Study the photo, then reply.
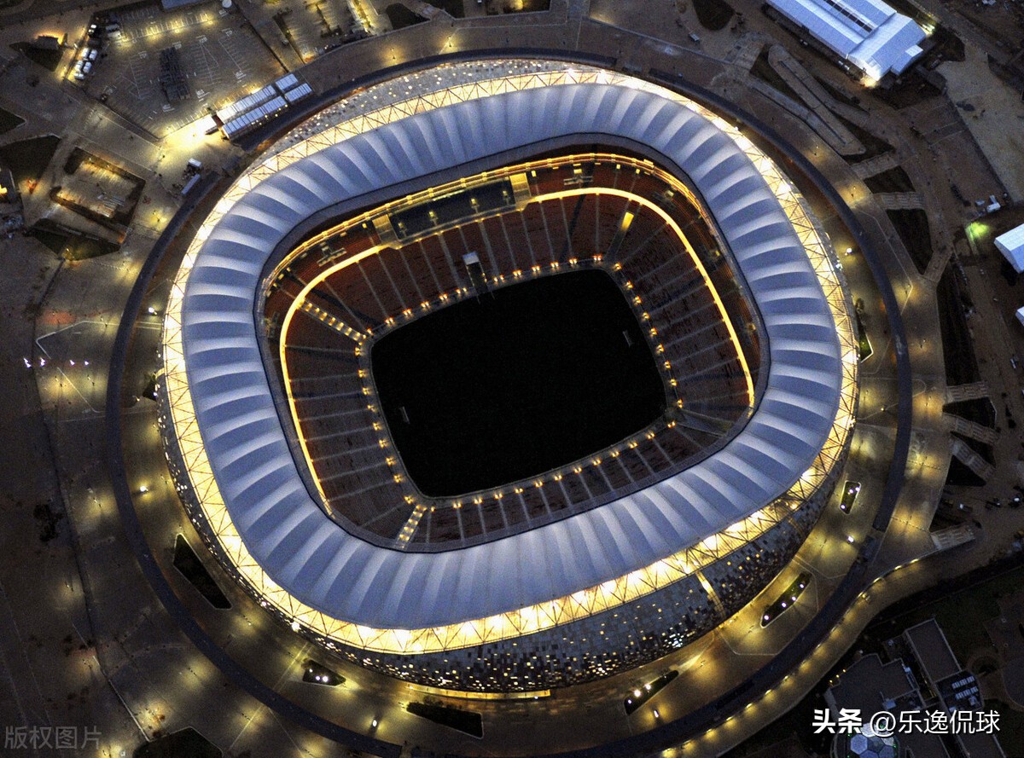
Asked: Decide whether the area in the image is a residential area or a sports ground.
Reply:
sports ground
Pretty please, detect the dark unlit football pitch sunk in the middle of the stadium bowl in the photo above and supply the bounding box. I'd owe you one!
[356,257,681,510]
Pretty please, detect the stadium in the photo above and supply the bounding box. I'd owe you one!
[158,63,866,700]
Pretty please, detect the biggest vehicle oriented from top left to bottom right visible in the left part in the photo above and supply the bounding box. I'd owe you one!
[186,154,202,167]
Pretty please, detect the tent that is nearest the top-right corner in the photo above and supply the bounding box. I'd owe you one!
[990,223,1024,276]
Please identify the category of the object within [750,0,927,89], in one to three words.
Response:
building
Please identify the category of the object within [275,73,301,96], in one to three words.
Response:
tent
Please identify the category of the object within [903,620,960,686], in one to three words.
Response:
building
